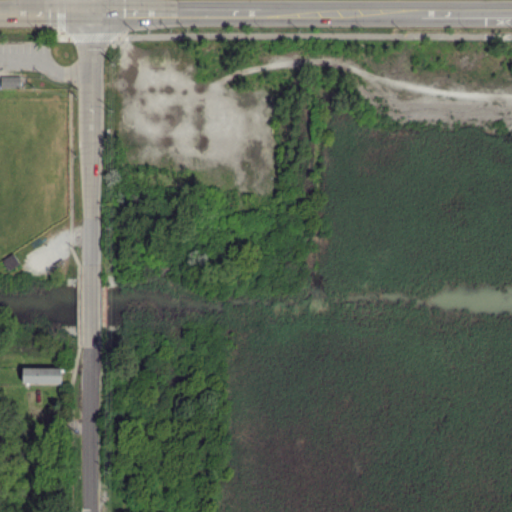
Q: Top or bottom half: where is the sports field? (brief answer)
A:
top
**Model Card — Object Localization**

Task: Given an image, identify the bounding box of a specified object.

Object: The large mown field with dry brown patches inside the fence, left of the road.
[0,90,69,259]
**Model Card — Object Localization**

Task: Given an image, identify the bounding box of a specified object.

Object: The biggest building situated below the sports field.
[22,368,62,386]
